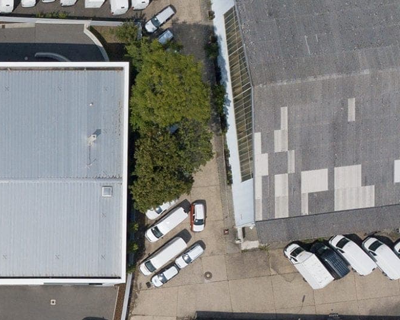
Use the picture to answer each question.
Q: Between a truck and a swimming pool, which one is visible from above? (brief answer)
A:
truck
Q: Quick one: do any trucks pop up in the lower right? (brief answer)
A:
Yes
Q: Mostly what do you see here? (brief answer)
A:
buildings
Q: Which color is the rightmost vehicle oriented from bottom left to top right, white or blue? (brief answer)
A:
white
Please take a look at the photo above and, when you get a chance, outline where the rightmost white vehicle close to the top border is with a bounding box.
[143,3,177,33]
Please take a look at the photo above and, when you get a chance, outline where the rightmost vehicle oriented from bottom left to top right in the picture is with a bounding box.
[173,241,208,269]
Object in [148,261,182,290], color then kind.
white van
